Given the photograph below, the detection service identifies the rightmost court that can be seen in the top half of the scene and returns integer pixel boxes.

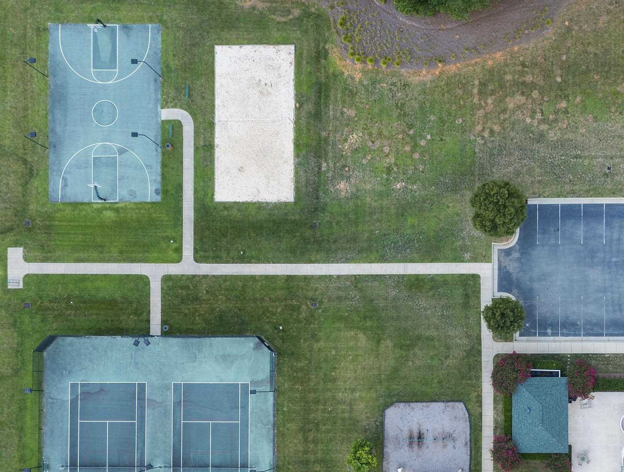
[214,43,296,202]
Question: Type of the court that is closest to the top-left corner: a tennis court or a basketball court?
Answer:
basketball court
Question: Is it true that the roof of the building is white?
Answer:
No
